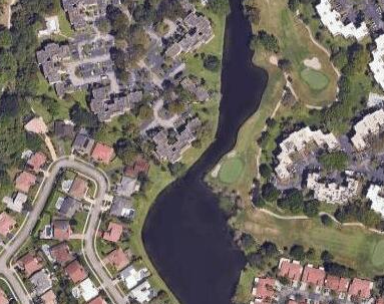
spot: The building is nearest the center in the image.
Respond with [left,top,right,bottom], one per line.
[153,116,206,165]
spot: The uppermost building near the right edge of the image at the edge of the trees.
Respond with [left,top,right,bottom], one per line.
[316,0,368,41]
